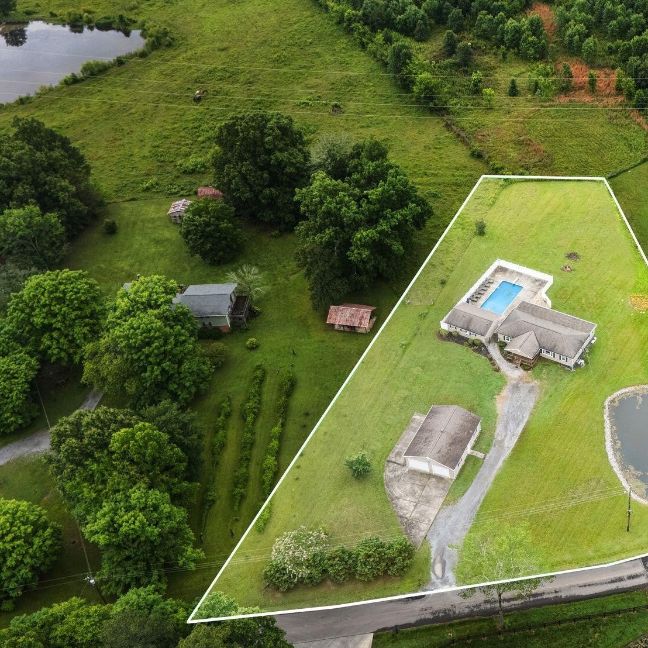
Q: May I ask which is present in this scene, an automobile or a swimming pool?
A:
swimming pool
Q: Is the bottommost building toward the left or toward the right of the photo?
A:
right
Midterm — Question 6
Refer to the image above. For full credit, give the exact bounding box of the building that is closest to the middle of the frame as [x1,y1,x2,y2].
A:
[326,301,381,333]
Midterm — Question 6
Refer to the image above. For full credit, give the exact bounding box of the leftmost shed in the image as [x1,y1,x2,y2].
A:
[161,202,191,228]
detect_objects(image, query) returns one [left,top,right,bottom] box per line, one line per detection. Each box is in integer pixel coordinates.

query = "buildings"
[161,287,253,333]
[443,301,598,371]
[194,184,222,201]
[402,405,482,478]
[161,202,191,228]
[326,301,381,333]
